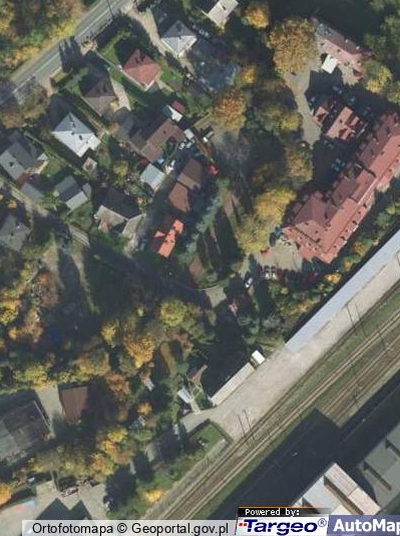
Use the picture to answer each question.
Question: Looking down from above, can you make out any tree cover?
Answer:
Yes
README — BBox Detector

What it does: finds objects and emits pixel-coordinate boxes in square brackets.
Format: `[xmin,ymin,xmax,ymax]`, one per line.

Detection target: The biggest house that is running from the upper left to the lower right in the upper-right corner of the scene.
[304,18,371,76]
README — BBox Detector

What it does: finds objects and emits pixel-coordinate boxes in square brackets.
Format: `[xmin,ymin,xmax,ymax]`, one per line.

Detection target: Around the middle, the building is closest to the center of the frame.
[150,215,185,259]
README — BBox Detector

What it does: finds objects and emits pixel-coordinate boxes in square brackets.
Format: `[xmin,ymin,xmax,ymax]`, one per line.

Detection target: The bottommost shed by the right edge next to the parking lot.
[284,233,400,352]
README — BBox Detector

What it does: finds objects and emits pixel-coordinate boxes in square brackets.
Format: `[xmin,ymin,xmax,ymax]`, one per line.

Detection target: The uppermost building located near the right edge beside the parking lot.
[284,105,400,267]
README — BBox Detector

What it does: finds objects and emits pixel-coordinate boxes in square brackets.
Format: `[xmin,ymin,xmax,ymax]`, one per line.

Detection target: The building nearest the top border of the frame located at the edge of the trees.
[208,0,240,27]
